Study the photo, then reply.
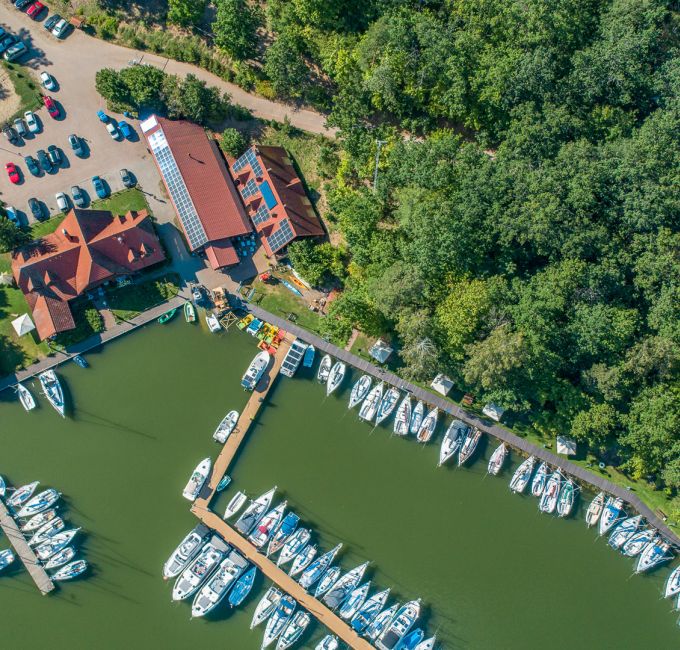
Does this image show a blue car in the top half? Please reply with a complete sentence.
Yes, there is a blue car in the top half.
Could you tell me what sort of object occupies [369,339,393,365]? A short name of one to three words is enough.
tent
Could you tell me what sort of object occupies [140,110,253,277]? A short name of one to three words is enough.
building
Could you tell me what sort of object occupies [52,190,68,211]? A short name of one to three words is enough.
car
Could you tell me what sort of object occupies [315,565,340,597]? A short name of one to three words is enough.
boat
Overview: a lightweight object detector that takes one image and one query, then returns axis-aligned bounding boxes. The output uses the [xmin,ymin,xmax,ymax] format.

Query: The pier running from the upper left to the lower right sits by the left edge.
[0,499,58,596]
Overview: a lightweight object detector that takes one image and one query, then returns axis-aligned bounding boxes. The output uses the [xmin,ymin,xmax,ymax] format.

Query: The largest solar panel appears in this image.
[148,129,207,248]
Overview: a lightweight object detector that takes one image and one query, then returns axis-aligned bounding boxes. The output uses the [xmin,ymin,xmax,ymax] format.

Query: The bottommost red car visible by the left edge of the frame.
[3,161,19,183]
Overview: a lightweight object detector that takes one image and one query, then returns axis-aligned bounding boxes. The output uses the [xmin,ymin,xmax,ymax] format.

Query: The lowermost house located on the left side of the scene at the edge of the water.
[11,207,167,341]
